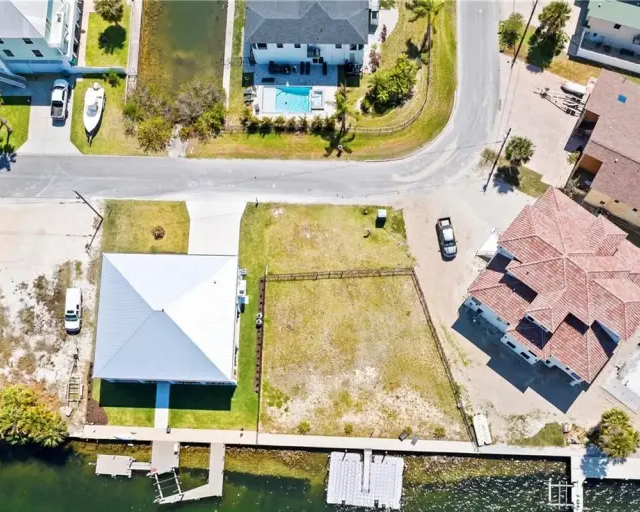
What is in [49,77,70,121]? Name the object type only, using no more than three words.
truck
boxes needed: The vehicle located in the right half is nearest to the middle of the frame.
[433,215,459,261]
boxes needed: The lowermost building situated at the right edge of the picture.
[466,187,640,384]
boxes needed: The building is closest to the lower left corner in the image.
[92,254,240,383]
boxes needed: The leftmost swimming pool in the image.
[261,84,312,114]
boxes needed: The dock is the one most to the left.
[92,455,134,480]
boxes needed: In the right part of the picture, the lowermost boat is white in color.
[561,82,586,99]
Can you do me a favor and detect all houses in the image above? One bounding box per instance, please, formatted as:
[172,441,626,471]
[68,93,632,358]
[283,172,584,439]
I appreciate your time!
[578,0,640,54]
[0,0,83,91]
[576,69,640,226]
[92,254,240,383]
[466,187,640,384]
[245,0,379,63]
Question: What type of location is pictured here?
residential area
